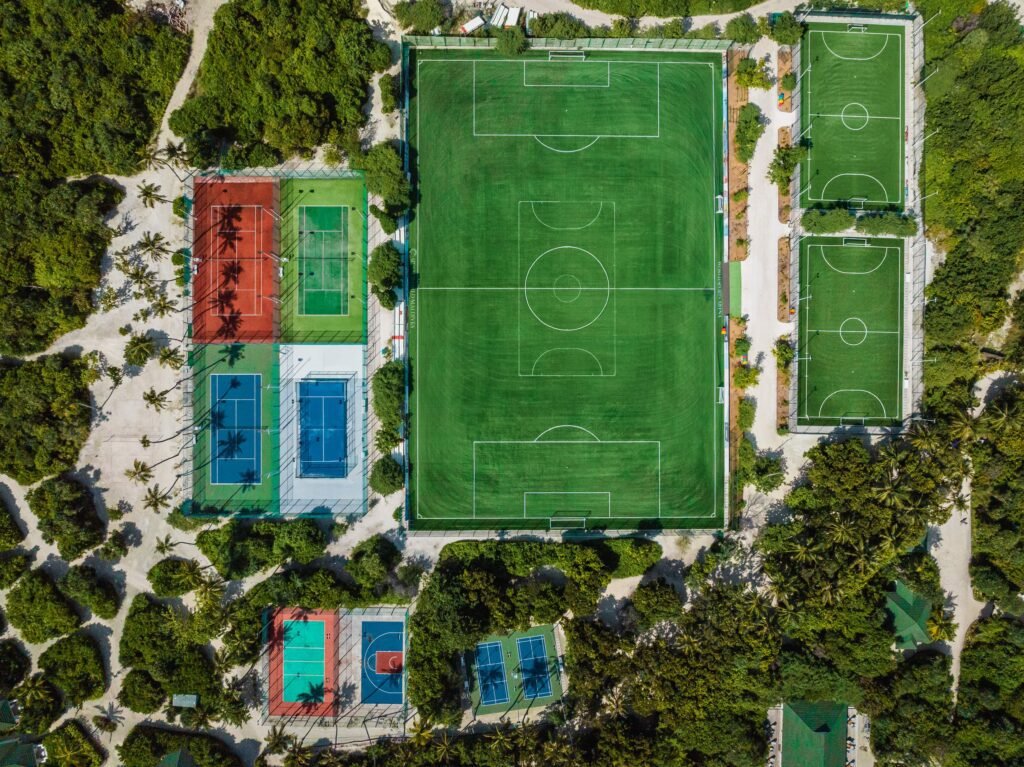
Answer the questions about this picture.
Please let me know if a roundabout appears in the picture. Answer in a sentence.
No, no roundabout is visible in the view.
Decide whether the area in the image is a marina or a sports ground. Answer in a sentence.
This image shows a sports ground.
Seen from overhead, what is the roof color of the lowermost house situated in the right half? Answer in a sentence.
The roof of the lowermost house situated in the right half is green.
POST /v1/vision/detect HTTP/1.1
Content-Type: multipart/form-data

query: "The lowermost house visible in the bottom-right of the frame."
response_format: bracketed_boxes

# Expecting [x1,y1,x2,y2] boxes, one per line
[780,699,847,767]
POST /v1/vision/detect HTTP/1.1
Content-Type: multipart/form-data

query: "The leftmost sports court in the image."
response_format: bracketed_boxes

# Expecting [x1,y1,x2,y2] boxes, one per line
[108,396,163,488]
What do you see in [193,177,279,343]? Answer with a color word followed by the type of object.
red tennis court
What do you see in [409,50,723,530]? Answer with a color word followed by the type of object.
green soccer field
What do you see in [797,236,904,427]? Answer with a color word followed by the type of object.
green soccer field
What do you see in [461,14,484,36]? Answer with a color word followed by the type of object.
white truck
